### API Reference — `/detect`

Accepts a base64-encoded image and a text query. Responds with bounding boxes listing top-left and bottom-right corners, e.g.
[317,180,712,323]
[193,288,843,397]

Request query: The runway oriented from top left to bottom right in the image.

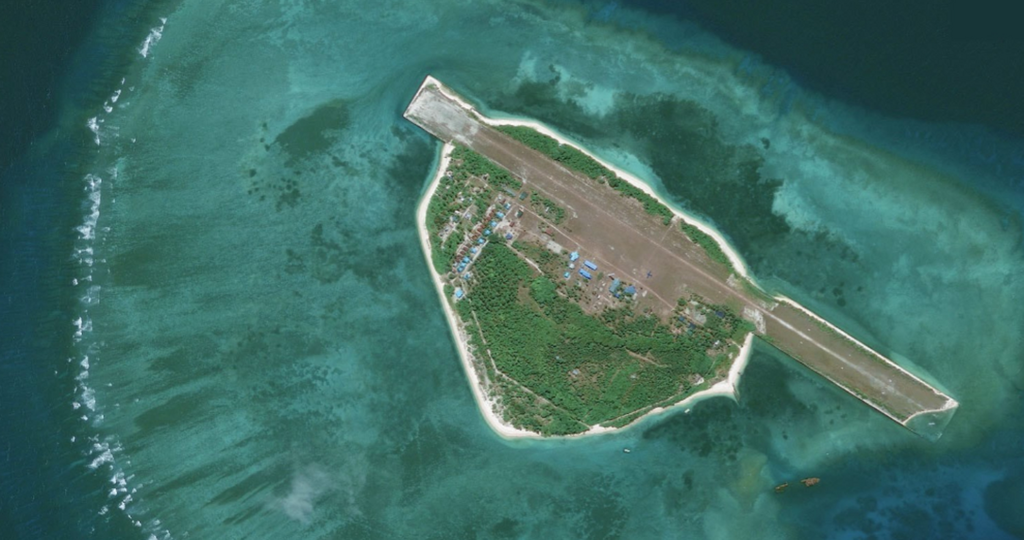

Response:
[409,88,942,420]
